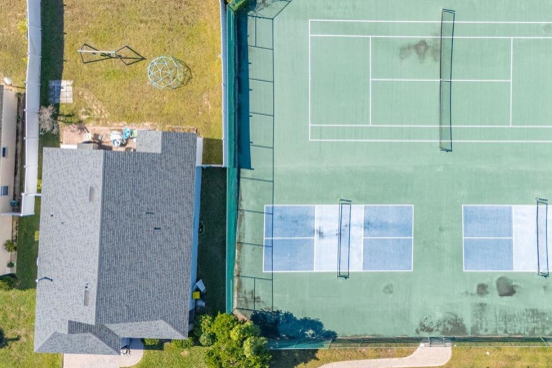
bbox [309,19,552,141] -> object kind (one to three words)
tennis court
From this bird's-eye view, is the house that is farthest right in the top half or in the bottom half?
bottom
